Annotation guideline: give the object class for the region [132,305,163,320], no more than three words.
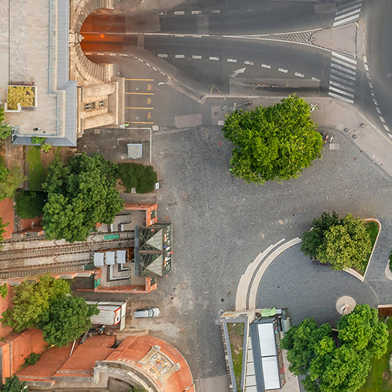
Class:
vehicle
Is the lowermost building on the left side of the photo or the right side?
right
